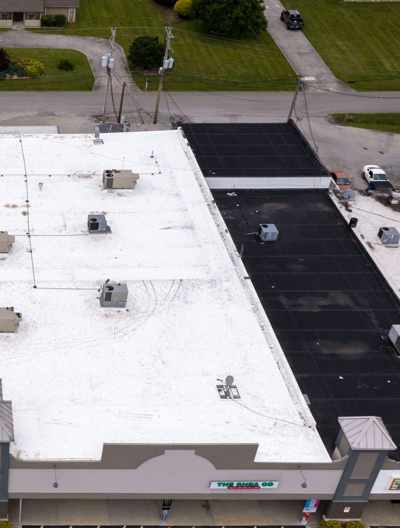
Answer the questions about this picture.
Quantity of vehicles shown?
3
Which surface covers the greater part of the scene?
buildings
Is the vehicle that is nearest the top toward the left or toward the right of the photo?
right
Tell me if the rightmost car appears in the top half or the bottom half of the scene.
top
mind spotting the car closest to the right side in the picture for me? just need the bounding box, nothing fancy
[364,165,397,189]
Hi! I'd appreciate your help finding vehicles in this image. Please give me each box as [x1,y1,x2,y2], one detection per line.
[327,166,358,189]
[282,7,311,27]
[364,165,397,189]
